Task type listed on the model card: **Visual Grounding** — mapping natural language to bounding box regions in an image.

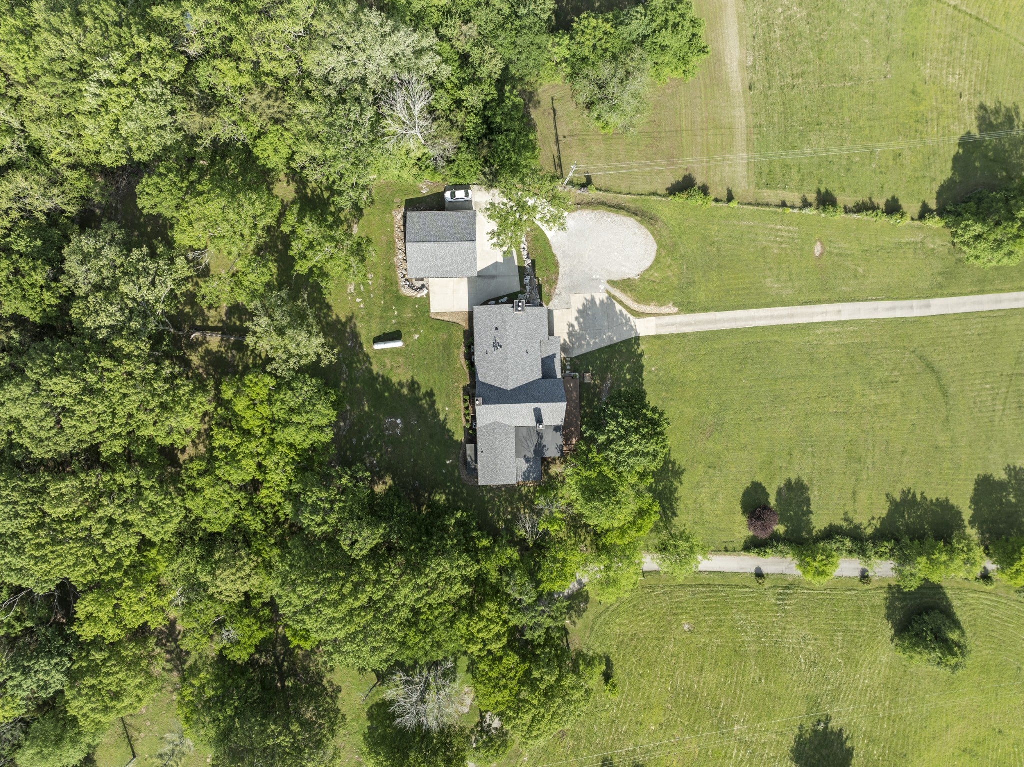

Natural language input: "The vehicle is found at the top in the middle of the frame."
[445,189,473,203]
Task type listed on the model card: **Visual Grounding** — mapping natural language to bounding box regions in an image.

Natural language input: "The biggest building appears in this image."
[467,300,567,485]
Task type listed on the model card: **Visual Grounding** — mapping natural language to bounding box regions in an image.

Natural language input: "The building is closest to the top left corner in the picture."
[404,212,477,279]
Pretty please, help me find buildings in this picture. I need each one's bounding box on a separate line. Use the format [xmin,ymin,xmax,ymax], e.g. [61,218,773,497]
[404,212,477,279]
[467,300,567,485]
